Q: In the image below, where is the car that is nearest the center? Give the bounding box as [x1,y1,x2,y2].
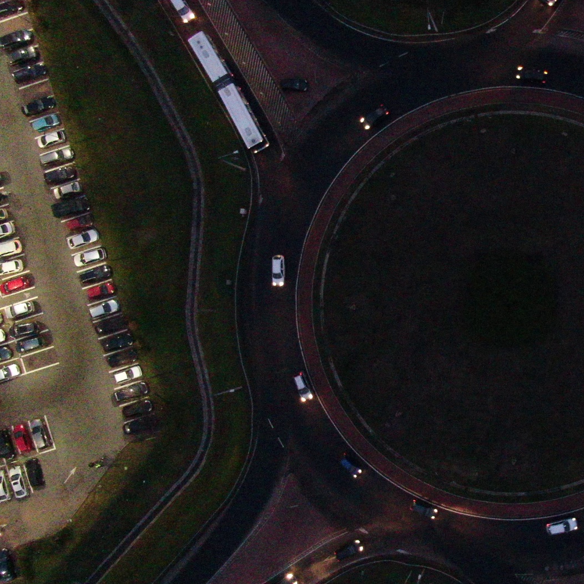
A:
[271,255,286,286]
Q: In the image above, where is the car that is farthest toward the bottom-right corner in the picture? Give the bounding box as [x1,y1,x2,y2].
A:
[548,517,576,534]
